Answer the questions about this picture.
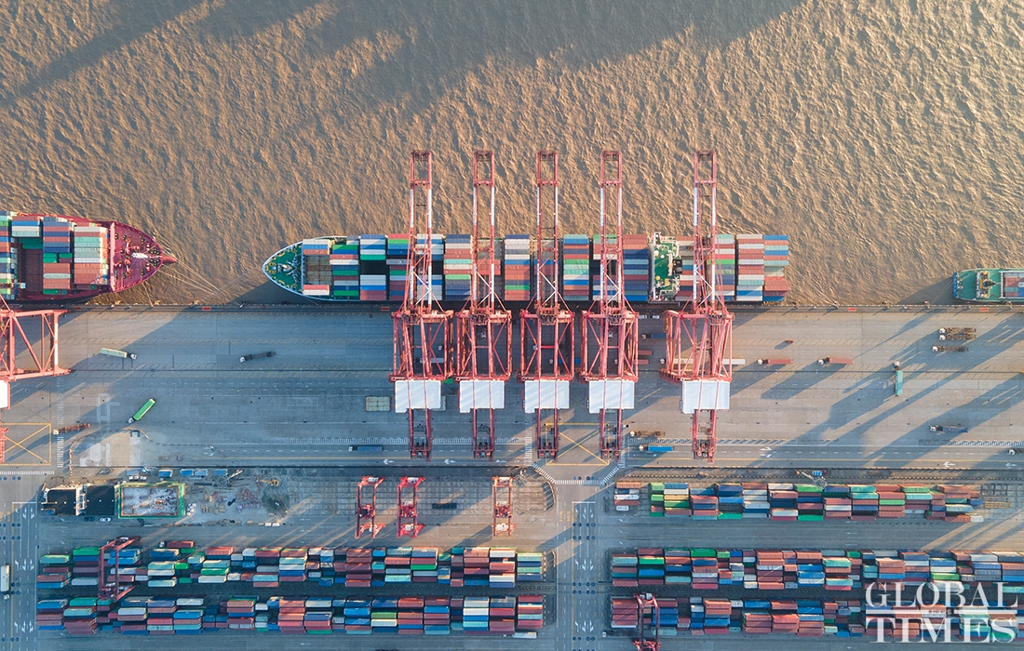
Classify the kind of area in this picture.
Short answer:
port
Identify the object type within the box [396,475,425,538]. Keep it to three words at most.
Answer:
container crane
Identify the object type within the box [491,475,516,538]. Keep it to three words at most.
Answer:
container crane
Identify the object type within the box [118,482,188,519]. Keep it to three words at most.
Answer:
building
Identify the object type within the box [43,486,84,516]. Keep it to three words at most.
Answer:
building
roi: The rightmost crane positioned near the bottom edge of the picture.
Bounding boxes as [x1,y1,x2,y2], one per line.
[630,592,661,651]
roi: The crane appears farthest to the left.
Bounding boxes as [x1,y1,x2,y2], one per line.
[0,289,74,459]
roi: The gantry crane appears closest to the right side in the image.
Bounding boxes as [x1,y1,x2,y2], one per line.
[657,150,734,459]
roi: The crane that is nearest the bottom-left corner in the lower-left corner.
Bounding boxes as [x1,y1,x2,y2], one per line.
[99,536,143,602]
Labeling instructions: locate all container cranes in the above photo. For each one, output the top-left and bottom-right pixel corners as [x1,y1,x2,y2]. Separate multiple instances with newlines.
[454,150,515,459]
[99,536,143,602]
[515,150,576,459]
[396,475,425,538]
[491,475,516,538]
[657,150,734,459]
[572,150,640,459]
[630,592,661,651]
[355,475,386,538]
[390,150,458,459]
